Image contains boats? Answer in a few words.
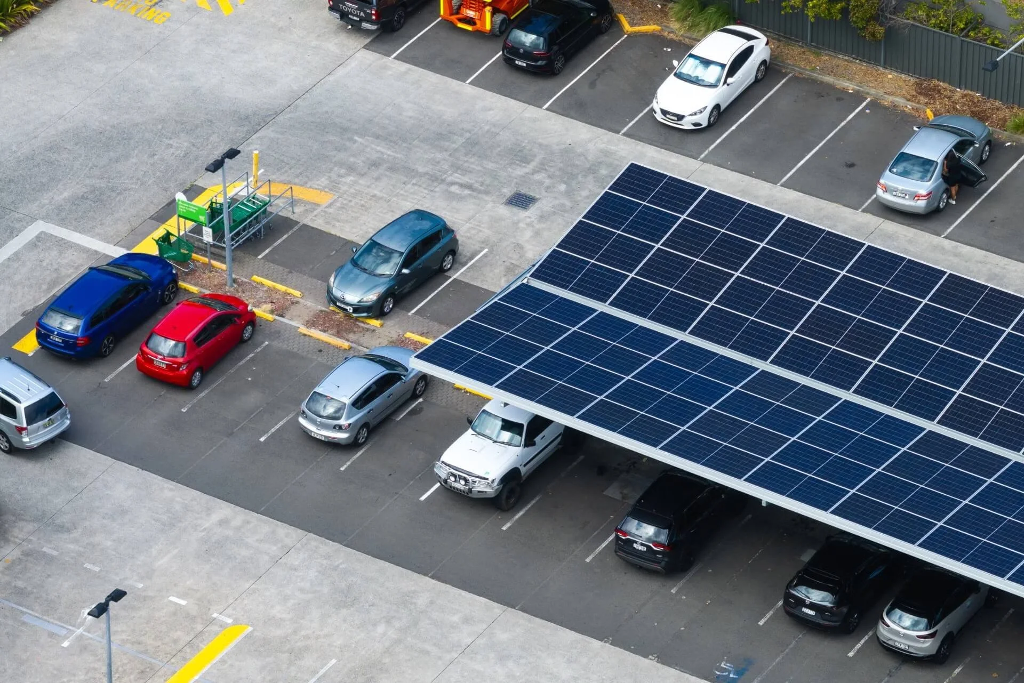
No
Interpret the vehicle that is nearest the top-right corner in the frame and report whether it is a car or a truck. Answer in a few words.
car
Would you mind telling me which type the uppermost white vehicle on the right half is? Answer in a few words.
car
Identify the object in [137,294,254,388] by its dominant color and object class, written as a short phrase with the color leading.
red car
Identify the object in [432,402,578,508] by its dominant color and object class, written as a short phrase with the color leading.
white car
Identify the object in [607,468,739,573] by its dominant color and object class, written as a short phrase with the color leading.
black car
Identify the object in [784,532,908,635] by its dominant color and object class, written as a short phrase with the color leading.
black car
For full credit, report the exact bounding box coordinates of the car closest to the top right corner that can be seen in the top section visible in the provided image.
[876,115,994,218]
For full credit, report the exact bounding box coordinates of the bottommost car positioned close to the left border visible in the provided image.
[0,356,71,452]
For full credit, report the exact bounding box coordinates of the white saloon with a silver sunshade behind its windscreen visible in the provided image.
[654,25,773,129]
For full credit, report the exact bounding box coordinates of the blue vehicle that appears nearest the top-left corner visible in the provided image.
[33,253,180,363]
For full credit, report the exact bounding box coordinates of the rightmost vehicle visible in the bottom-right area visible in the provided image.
[876,564,996,664]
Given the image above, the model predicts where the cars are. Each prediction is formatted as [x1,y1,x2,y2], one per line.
[0,356,71,452]
[33,253,180,363]
[297,347,427,446]
[500,0,613,74]
[328,211,458,316]
[654,25,773,129]
[432,402,578,508]
[137,294,254,388]
[784,532,908,635]
[876,564,996,664]
[607,468,739,573]
[876,115,994,218]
